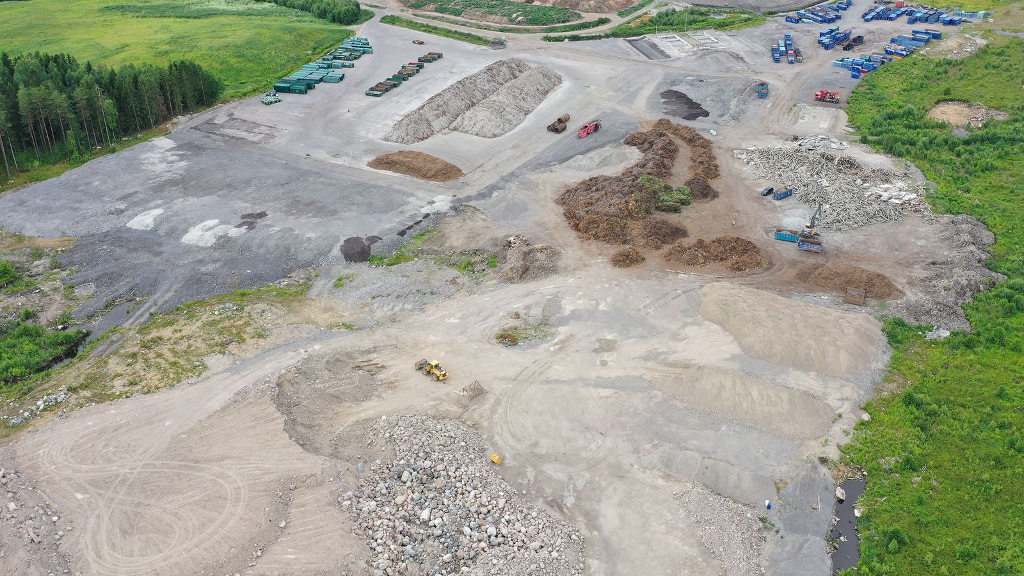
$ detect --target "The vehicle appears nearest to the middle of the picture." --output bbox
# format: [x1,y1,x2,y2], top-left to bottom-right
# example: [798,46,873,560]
[415,359,451,383]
